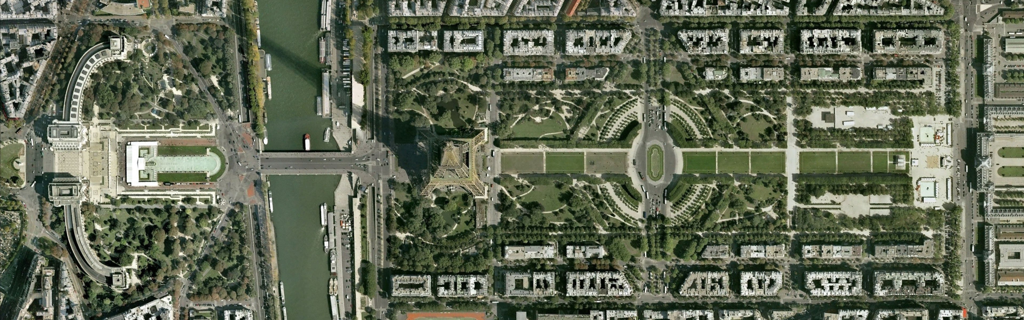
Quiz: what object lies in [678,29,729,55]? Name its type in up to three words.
building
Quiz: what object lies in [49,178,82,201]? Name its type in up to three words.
building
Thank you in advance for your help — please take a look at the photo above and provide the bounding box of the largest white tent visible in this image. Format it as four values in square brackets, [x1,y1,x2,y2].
[127,141,158,186]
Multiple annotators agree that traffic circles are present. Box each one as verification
[646,140,665,185]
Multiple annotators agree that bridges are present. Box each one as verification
[261,152,353,176]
